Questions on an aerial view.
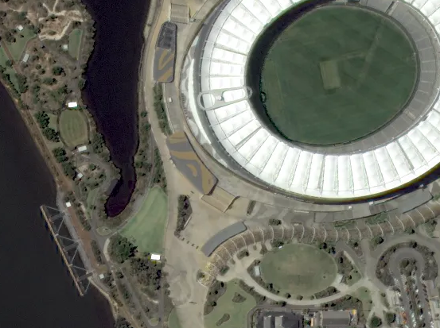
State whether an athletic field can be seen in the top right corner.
Yes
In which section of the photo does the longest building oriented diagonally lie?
center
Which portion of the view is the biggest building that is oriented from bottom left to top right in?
bottom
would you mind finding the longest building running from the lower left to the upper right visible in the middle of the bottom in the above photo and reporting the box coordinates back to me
[202,222,246,256]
